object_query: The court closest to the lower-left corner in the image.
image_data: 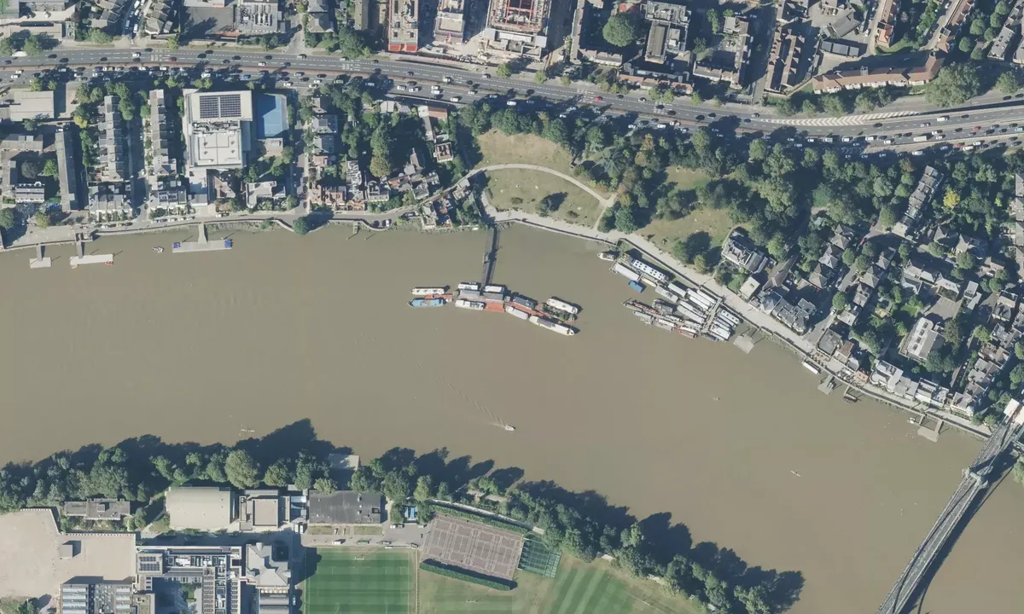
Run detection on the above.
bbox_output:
[422,514,523,580]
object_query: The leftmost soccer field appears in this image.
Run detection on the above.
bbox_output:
[305,550,410,614]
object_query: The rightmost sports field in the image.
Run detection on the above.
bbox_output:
[528,560,675,614]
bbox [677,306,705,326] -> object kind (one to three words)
boat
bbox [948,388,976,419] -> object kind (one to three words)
house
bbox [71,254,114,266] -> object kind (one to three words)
pier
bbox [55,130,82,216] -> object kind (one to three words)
building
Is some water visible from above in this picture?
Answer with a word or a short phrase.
Yes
